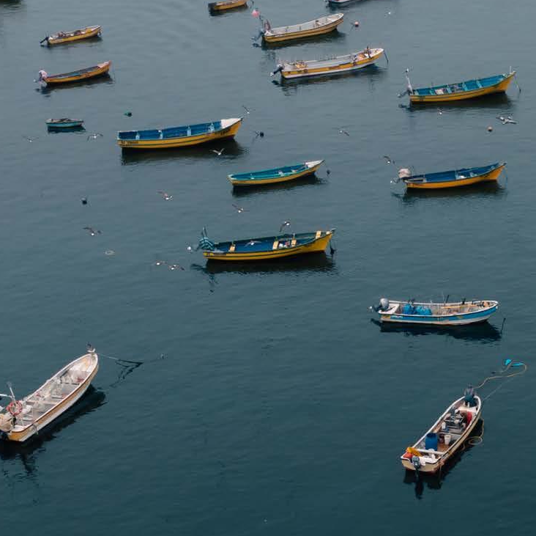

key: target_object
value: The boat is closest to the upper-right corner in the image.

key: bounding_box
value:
[403,71,517,102]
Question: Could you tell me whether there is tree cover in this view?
No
